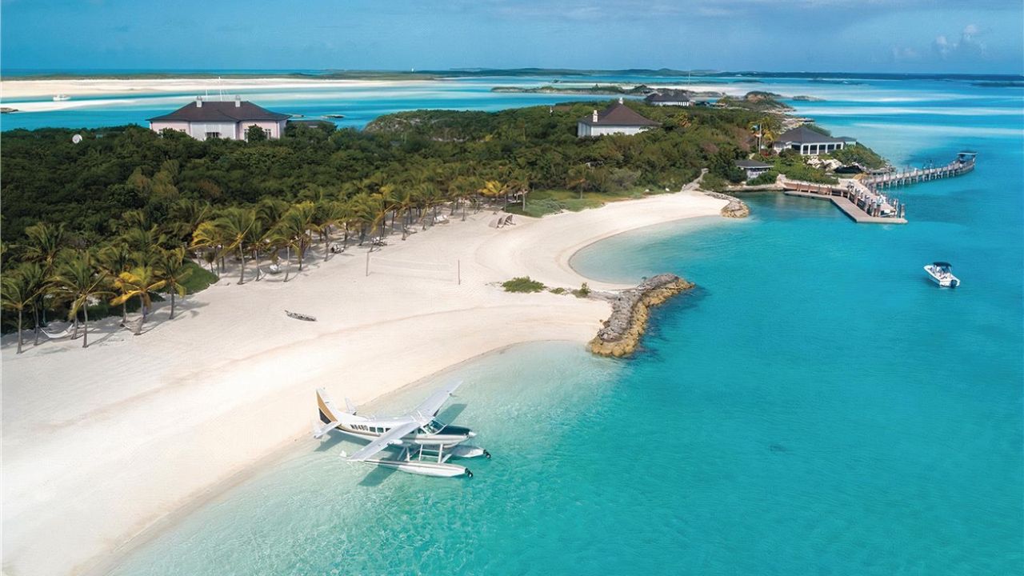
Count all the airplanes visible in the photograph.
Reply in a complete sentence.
I count 1 airplane.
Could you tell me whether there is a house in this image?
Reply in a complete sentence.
Yes, the picture does show a house.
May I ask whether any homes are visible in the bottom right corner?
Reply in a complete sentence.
No, no home appears in the bottom right corner.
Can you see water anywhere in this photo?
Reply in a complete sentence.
Yes, there is water in the image.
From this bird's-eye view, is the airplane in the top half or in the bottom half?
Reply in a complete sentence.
It is in the bottom half that the airplane appears.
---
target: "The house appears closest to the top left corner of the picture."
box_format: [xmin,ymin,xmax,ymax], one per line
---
[141,96,290,138]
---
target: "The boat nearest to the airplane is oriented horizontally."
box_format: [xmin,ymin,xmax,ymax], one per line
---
[281,306,317,320]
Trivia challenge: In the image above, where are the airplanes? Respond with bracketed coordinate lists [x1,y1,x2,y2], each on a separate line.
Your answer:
[307,373,491,479]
